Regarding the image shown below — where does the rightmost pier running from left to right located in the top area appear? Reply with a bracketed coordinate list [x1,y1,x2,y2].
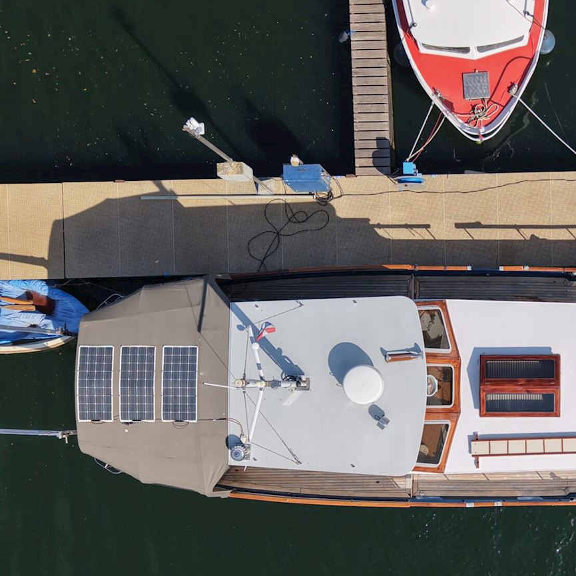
[64,169,576,279]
